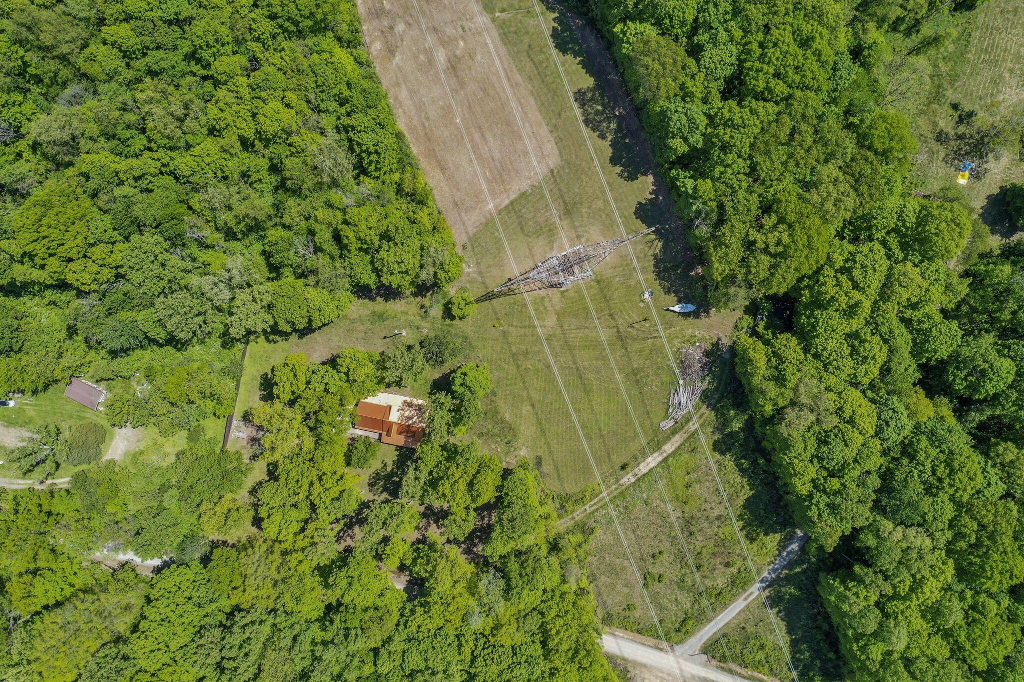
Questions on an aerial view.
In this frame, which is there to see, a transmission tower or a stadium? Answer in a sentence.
This aerial view contains a transmission tower.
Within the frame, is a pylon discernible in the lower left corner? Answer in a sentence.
No, I see no pylon in the lower left corner.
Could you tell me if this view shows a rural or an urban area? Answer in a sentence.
This place is rural.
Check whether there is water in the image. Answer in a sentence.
No, there's no water in this view.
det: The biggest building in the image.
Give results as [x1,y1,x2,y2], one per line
[354,392,428,449]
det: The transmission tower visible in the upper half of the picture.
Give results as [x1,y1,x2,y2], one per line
[493,228,656,293]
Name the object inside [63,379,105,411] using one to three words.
building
